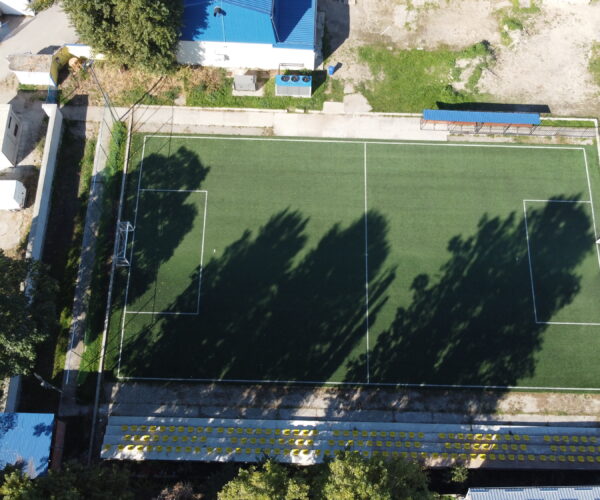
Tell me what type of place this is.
sports ground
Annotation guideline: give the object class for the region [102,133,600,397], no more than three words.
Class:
soccer field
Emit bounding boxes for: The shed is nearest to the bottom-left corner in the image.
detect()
[0,411,67,477]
